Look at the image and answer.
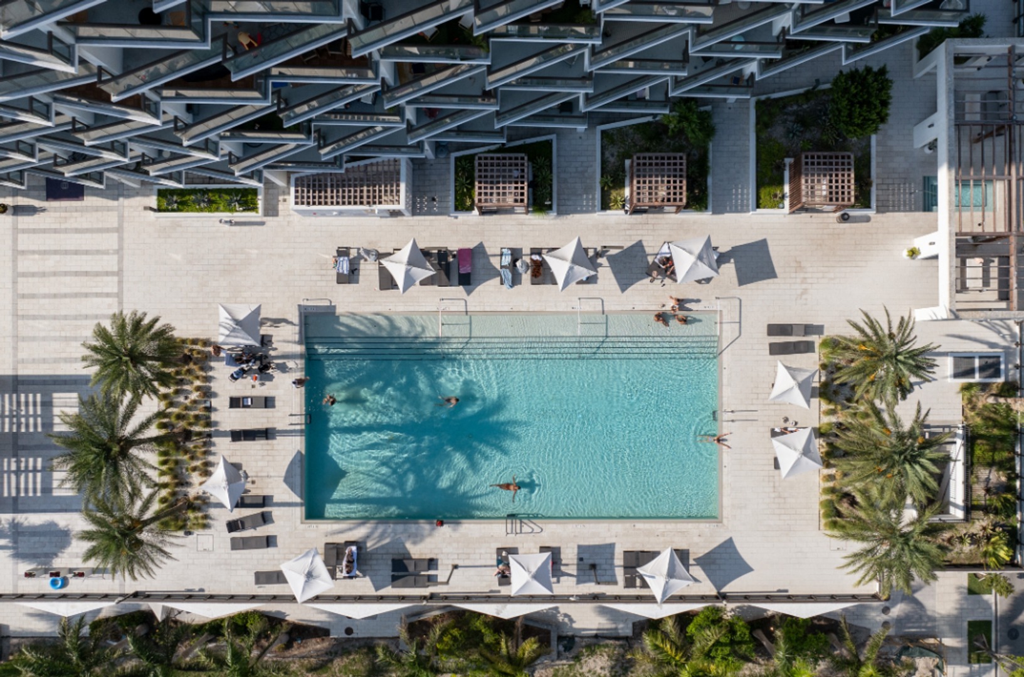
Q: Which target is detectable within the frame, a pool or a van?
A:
pool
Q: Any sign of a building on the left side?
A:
Yes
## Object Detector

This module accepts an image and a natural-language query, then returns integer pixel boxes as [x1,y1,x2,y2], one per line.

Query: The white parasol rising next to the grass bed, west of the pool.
[201,457,245,511]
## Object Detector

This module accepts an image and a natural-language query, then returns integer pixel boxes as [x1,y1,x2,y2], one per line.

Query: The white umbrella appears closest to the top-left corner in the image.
[219,305,260,346]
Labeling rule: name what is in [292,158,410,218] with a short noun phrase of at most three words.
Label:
building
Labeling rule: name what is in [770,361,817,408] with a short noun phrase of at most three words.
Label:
umbrella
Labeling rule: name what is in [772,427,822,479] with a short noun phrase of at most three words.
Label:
umbrella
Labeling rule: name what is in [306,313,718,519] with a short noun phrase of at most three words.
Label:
swimming pool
